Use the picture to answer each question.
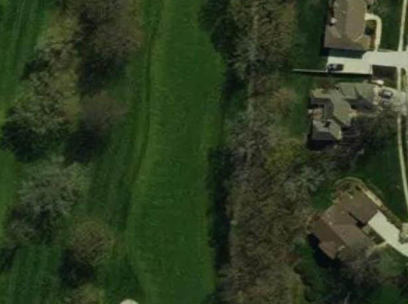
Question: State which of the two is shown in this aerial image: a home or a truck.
home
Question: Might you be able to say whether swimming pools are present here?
No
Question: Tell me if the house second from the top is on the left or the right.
right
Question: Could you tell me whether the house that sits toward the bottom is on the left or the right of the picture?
right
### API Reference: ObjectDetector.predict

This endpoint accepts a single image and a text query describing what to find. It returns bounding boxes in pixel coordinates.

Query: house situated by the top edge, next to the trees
[323,0,377,52]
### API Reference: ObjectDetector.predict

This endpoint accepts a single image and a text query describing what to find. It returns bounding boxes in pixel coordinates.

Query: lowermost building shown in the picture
[312,186,380,263]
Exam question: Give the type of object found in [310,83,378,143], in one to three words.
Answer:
house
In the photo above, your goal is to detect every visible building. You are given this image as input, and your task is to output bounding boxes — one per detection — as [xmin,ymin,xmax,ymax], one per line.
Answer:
[312,186,380,263]
[310,83,378,143]
[323,0,377,52]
